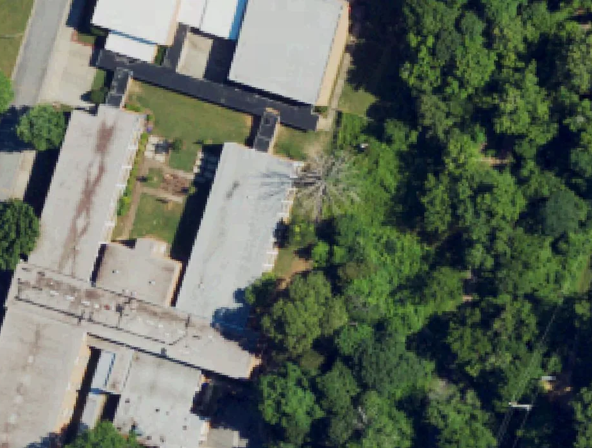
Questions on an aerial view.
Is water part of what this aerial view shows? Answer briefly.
No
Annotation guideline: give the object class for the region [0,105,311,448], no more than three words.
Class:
building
